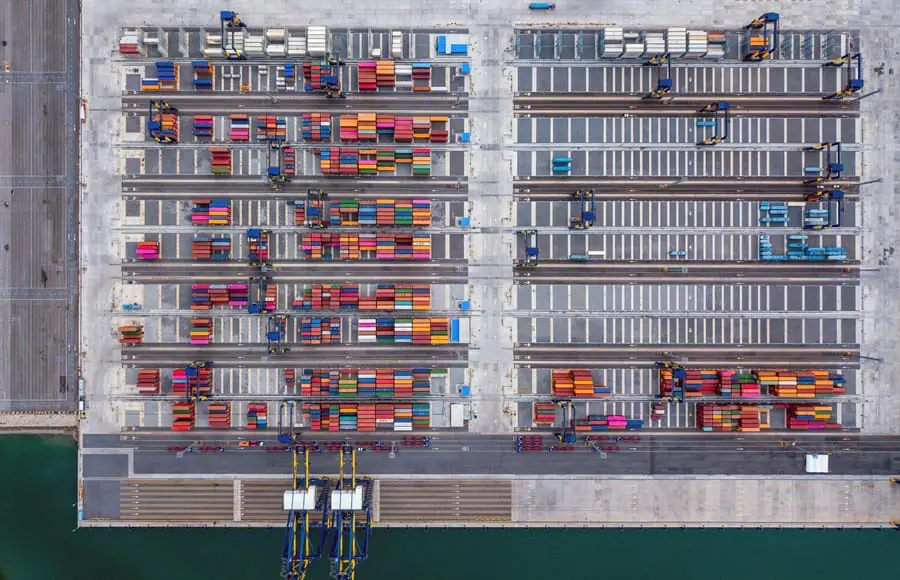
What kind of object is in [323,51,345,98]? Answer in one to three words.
container crane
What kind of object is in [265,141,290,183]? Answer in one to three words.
container crane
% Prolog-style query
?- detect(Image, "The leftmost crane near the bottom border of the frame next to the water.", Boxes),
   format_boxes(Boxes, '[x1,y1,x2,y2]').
[274,447,338,580]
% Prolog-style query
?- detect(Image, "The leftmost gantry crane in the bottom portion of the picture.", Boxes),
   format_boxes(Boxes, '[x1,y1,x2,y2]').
[184,361,212,403]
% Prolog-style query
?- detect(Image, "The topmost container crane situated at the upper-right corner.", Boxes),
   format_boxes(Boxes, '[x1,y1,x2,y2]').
[744,12,780,61]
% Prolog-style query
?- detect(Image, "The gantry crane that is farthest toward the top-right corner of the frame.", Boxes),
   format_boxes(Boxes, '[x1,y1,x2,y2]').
[824,51,865,98]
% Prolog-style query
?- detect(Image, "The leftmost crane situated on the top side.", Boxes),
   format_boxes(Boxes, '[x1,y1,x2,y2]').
[147,101,178,145]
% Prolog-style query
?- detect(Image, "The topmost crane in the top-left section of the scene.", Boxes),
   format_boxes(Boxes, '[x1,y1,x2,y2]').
[219,11,246,61]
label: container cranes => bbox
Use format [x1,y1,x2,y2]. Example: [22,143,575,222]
[305,189,328,229]
[147,101,178,145]
[657,361,688,403]
[248,277,273,315]
[744,12,780,61]
[517,228,540,267]
[219,11,246,61]
[265,141,290,183]
[643,51,673,98]
[277,399,301,444]
[805,189,845,229]
[805,141,844,183]
[824,51,865,98]
[570,189,596,229]
[553,399,577,443]
[184,361,212,403]
[323,51,345,98]
[245,228,271,267]
[698,101,730,145]
[265,314,290,354]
